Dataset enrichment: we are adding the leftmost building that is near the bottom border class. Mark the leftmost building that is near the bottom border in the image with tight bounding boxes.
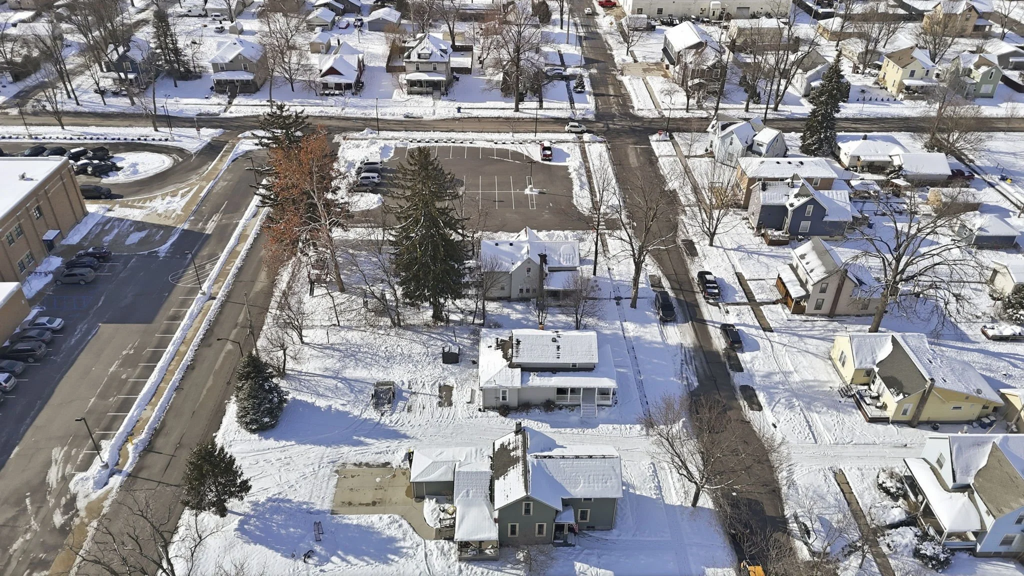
[405,418,623,558]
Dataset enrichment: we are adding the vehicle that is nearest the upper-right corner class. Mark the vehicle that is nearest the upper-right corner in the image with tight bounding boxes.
[947,166,982,182]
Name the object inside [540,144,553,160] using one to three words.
vehicle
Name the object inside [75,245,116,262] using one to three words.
car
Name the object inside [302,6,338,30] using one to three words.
building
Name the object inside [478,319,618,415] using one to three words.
house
